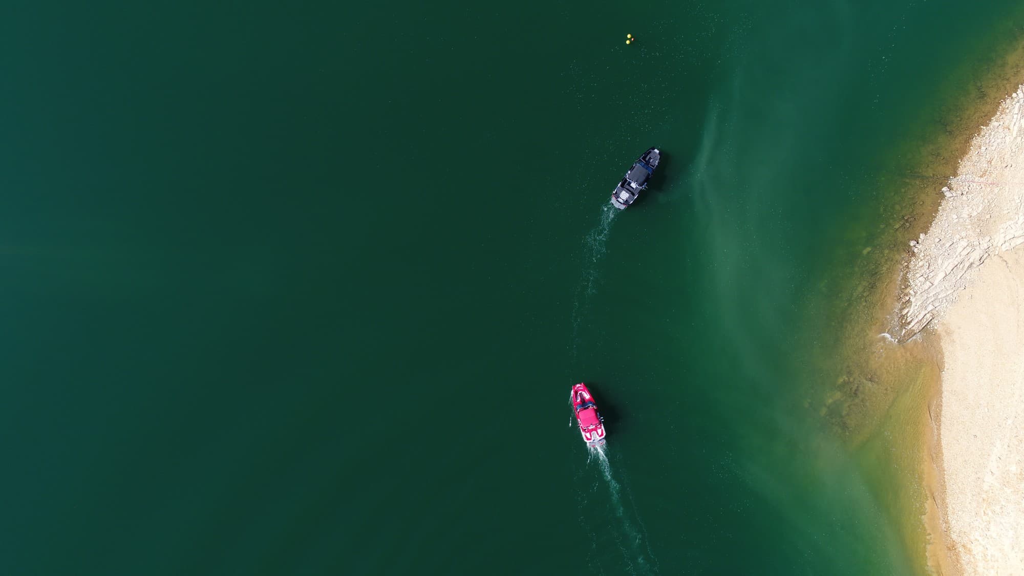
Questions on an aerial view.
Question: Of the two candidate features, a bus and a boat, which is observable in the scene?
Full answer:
The one in the frame is a boat.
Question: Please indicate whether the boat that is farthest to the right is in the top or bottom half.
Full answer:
The boat that is farthest to the right is in the top half of the image.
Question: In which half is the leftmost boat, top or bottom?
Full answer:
The bottom half of the photo is where the leftmost boat is.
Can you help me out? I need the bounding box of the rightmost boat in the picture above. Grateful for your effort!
[611,147,659,209]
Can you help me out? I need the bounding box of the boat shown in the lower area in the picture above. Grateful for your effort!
[573,382,606,447]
